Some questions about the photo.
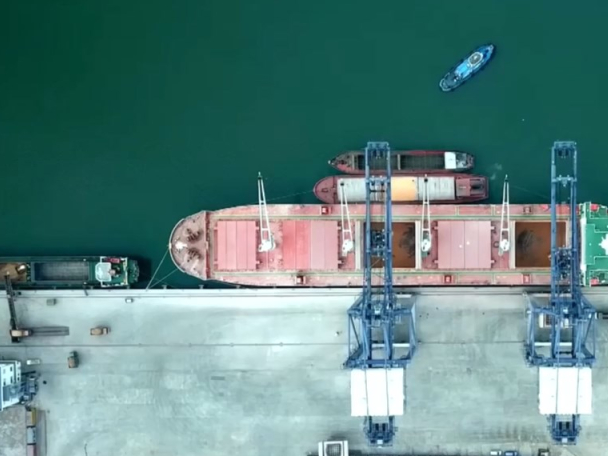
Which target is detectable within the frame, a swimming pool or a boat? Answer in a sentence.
This aerial view contains a boat.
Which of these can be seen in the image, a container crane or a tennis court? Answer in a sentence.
It is a container crane that can be seen here.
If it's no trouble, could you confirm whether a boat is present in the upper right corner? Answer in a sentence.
Yes, a boat appears in the upper right corner.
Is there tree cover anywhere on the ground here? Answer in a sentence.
No, the picture contains no tree cover.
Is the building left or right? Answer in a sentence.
It is on the left.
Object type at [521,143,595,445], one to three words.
container crane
